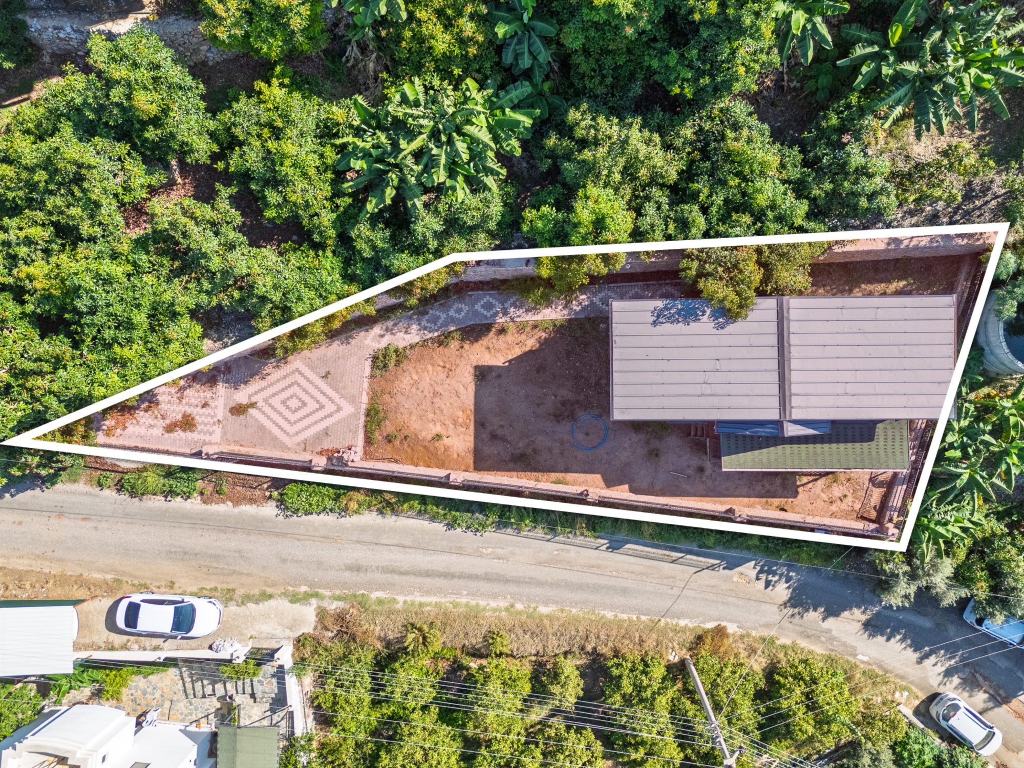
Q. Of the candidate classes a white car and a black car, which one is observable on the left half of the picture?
white car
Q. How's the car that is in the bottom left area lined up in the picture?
from side to side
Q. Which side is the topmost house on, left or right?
right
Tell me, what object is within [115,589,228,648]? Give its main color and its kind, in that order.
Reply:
white car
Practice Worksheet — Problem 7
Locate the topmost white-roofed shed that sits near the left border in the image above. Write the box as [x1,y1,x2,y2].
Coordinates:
[0,595,98,676]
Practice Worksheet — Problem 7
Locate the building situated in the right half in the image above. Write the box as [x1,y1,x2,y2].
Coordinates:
[607,293,959,471]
